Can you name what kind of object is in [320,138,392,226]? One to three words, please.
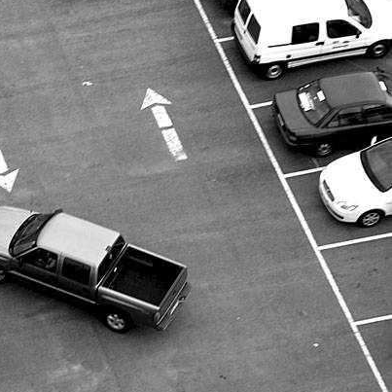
car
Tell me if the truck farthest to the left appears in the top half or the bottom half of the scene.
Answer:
bottom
